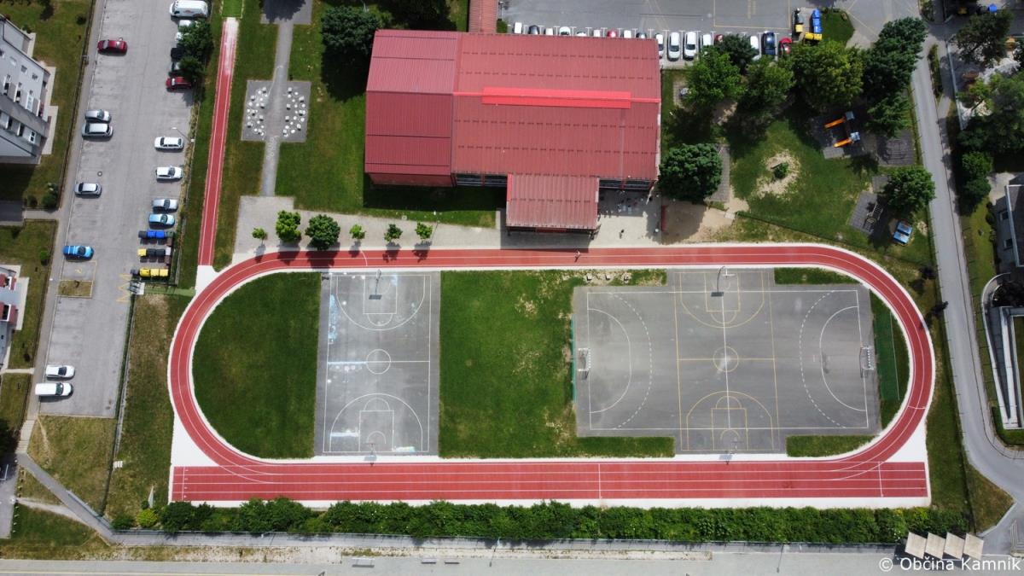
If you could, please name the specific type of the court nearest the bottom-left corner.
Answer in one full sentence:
The court nearest the bottom-left corner in the image is a basketball court.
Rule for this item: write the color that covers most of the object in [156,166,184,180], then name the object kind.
white car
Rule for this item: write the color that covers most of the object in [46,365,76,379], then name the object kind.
white car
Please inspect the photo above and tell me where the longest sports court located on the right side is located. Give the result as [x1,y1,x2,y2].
[573,283,880,437]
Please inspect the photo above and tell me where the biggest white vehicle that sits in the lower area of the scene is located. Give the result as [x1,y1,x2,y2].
[32,381,76,397]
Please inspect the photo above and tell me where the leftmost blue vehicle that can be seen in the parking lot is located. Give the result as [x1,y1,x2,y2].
[61,245,95,259]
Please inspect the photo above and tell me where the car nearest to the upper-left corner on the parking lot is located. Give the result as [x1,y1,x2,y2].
[97,39,128,53]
